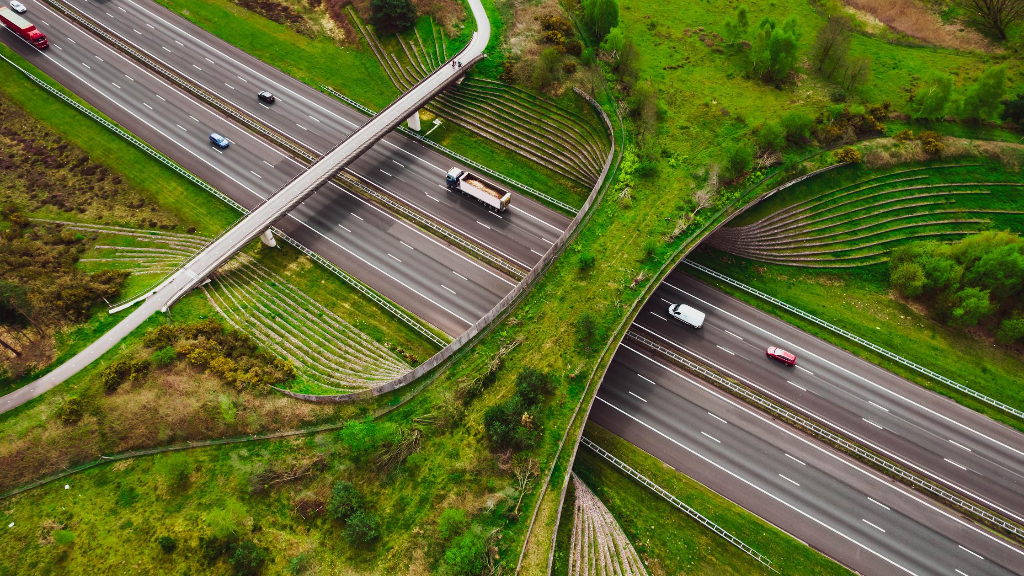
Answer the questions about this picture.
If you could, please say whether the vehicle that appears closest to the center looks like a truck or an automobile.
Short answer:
truck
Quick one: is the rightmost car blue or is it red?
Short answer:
red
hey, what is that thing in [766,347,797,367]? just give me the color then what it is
red car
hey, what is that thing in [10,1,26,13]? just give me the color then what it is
white vehicle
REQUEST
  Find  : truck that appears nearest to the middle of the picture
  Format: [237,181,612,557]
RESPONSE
[446,165,511,213]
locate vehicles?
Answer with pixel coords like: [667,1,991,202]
[10,1,26,13]
[668,305,707,331]
[257,92,275,104]
[446,165,511,213]
[766,347,797,367]
[0,5,46,47]
[210,132,230,148]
